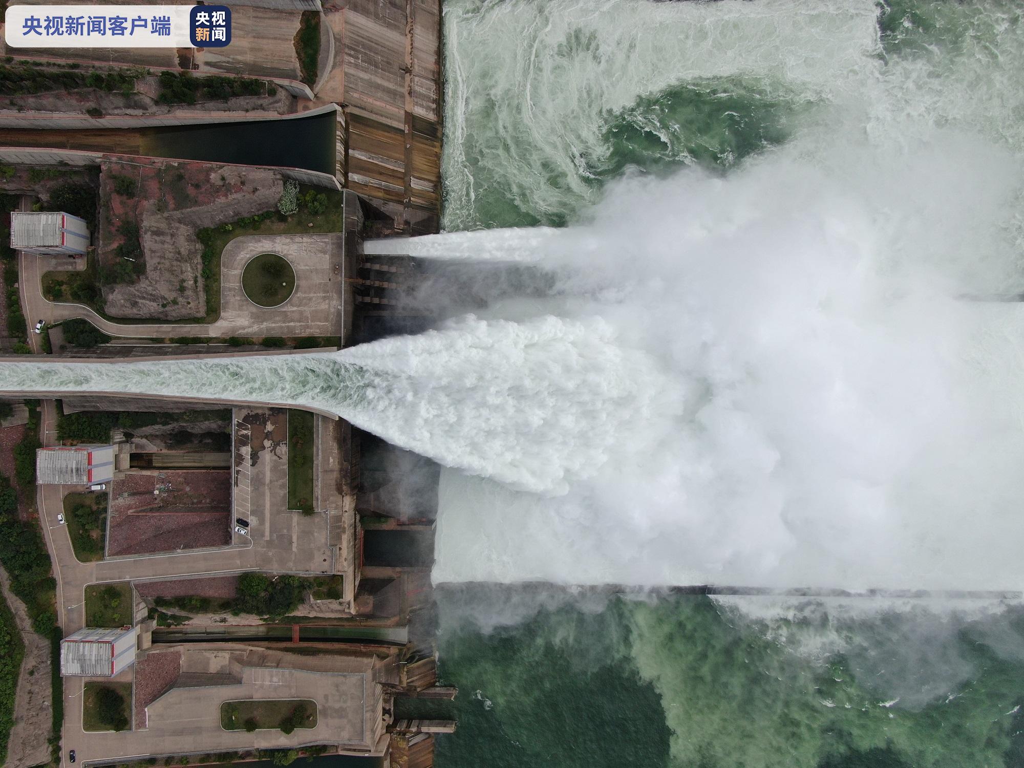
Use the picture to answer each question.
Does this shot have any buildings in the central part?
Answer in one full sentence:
No, I see no building in the central part.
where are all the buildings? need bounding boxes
[60,626,136,677]
[10,212,90,259]
[37,444,114,485]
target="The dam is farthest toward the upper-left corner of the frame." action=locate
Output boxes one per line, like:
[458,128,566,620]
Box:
[342,192,376,349]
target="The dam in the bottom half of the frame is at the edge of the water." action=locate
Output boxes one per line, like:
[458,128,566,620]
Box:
[320,415,371,613]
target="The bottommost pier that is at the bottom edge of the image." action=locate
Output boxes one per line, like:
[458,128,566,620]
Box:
[399,714,457,733]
